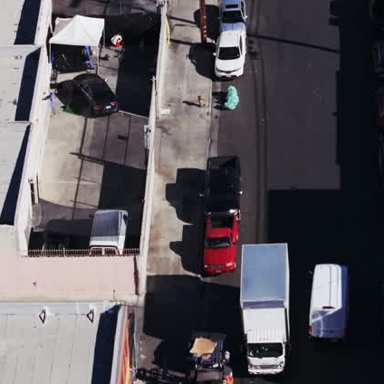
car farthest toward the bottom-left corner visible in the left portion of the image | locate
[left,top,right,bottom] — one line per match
[49,222,88,253]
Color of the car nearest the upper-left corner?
black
